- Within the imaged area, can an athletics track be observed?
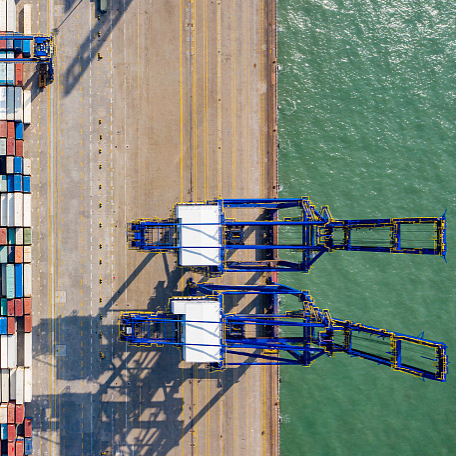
No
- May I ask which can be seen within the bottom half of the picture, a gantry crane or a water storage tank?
gantry crane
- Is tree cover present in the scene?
No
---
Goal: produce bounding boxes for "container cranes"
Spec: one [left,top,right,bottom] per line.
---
[123,194,453,280]
[0,34,56,87]
[112,271,453,389]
